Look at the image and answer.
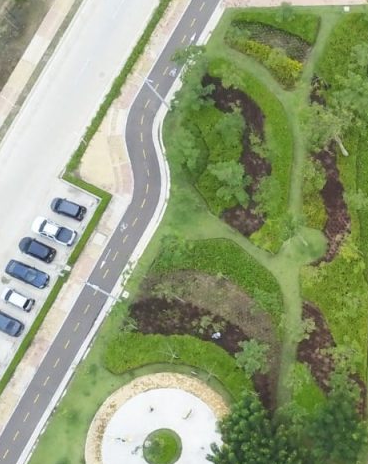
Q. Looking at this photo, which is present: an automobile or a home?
automobile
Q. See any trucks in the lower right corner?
No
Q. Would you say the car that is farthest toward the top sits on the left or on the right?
left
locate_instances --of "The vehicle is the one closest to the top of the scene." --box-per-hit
[51,198,89,222]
